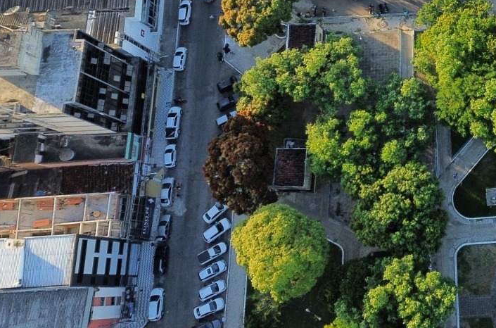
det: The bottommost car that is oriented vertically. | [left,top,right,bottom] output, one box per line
[148,288,166,322]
